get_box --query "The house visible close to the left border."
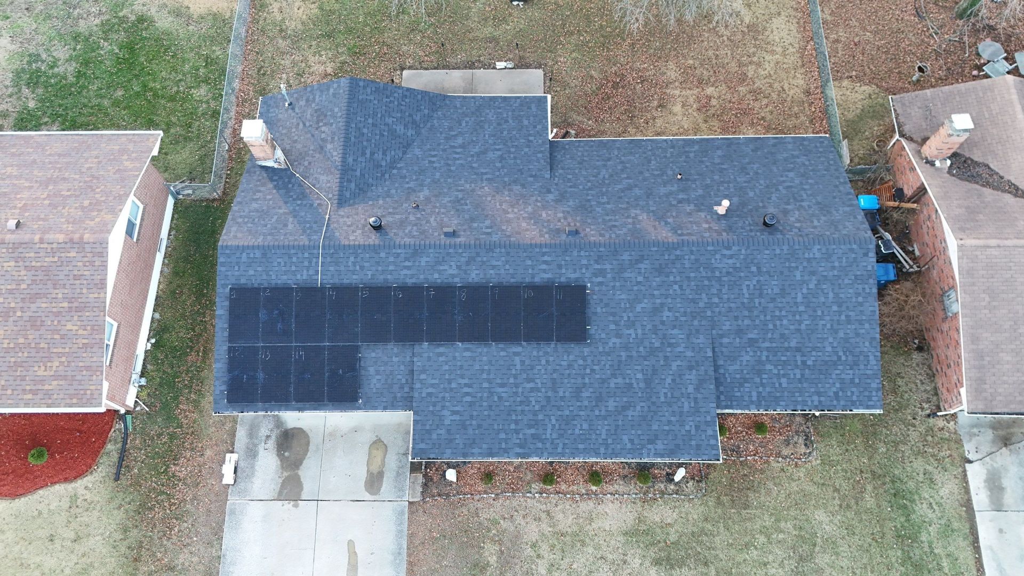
[0,129,173,418]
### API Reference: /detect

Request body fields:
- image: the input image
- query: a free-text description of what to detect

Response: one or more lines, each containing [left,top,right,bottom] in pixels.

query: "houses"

[0,129,173,418]
[213,76,882,466]
[883,69,1024,420]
